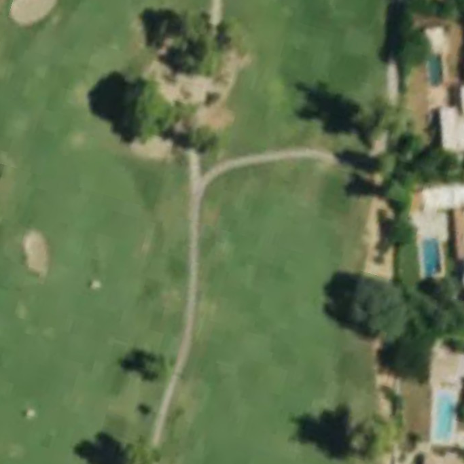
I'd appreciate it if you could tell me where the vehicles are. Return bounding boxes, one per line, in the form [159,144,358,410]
[92,280,98,289]
[28,408,33,416]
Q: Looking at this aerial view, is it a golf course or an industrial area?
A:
golf course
